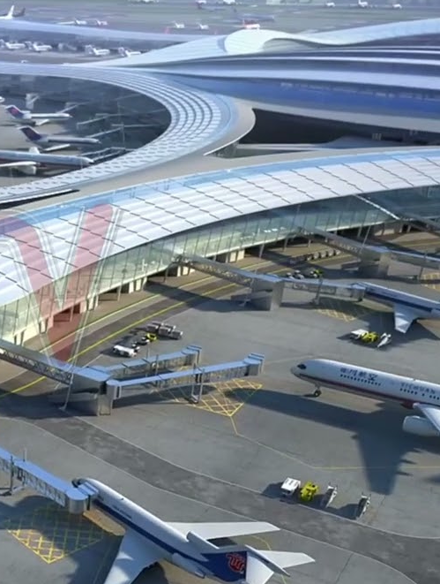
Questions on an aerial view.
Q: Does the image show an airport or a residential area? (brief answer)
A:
airport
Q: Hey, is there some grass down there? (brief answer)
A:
No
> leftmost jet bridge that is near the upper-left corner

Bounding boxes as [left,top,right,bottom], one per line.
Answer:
[28,91,45,114]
